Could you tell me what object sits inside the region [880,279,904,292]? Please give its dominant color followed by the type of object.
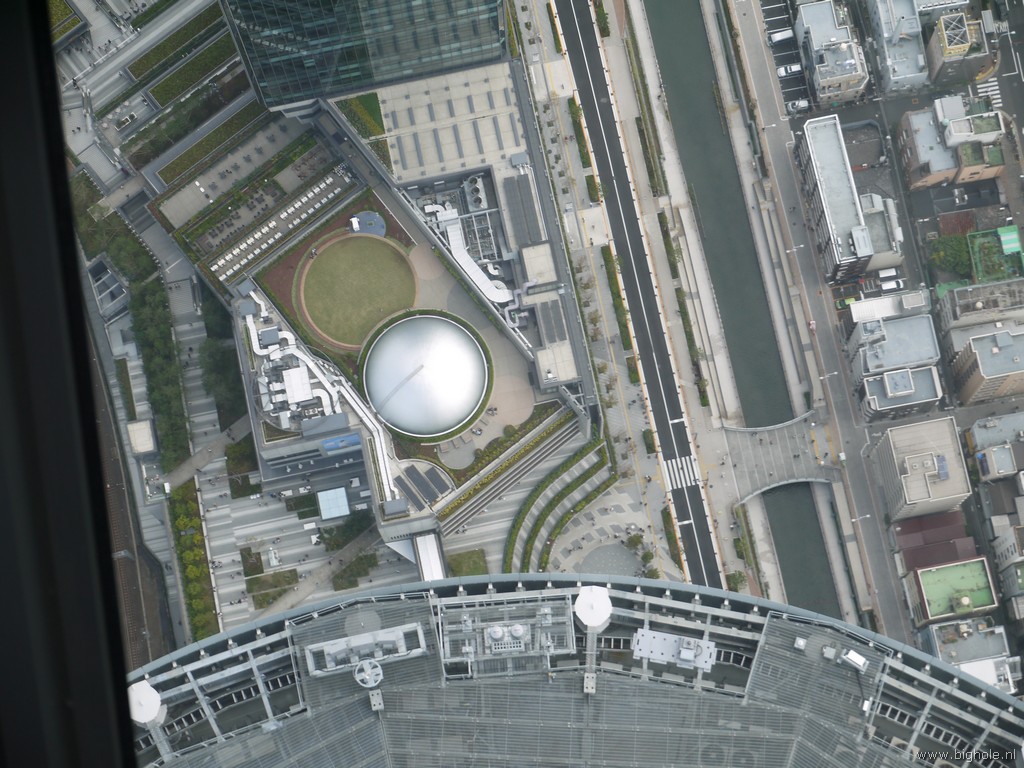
white vehicle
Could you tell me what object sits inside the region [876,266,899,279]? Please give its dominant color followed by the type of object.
white vehicle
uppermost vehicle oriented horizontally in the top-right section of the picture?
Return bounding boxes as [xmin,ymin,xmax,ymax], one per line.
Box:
[768,28,794,43]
